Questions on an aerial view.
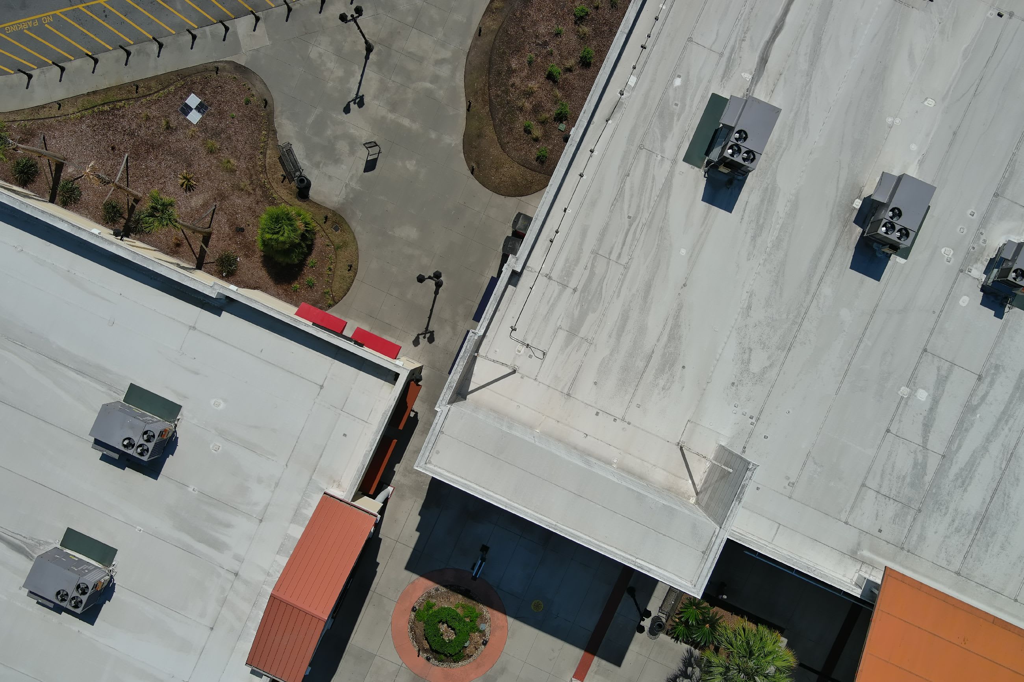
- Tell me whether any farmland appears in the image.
No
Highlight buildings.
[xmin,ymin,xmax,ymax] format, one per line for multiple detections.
[0,179,423,682]
[412,0,1024,628]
